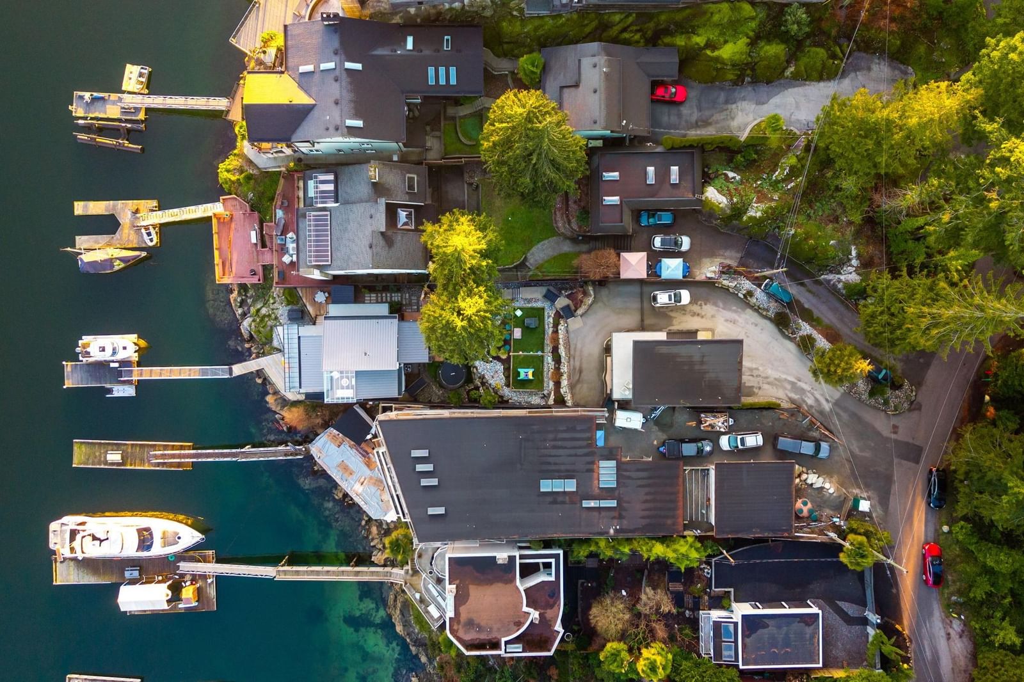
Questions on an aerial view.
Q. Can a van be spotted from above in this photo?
Yes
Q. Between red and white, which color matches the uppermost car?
red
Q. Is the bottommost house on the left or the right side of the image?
right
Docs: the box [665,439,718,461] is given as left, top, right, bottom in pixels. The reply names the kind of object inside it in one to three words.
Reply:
truck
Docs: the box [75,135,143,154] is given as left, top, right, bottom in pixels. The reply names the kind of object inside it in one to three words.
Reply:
pier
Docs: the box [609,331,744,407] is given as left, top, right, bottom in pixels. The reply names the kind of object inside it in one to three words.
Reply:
building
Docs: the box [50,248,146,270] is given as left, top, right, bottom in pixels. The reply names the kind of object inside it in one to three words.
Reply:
boat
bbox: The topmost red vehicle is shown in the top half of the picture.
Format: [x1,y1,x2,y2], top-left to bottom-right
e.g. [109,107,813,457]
[652,81,689,102]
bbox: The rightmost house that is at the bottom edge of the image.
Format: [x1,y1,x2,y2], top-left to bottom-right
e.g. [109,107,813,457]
[695,599,821,667]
